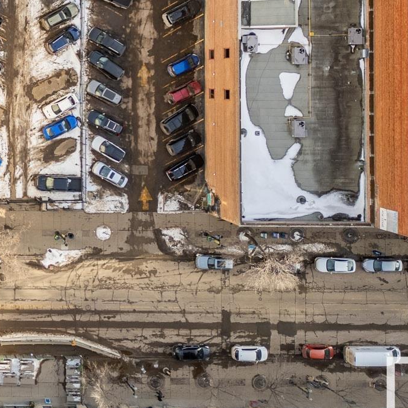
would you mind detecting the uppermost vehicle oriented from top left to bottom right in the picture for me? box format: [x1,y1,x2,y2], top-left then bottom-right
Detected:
[88,26,127,57]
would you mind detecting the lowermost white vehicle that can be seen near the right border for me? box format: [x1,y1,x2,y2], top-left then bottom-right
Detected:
[339,343,396,367]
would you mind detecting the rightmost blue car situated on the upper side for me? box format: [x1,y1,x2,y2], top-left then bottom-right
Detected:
[166,53,201,78]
